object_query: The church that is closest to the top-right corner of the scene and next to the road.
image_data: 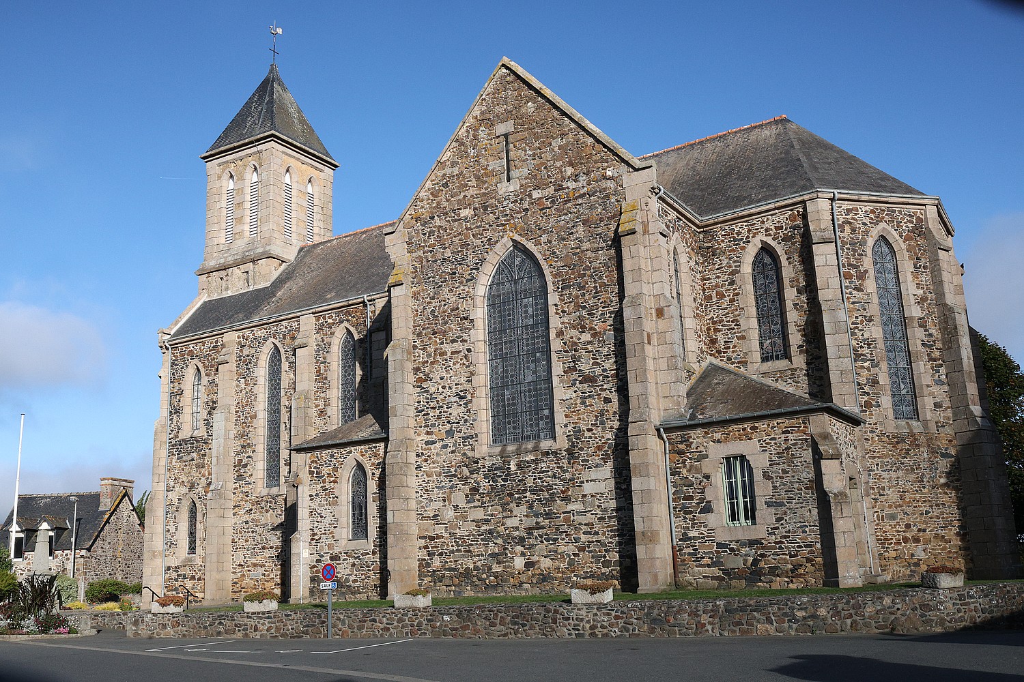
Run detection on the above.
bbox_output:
[137,28,1024,610]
